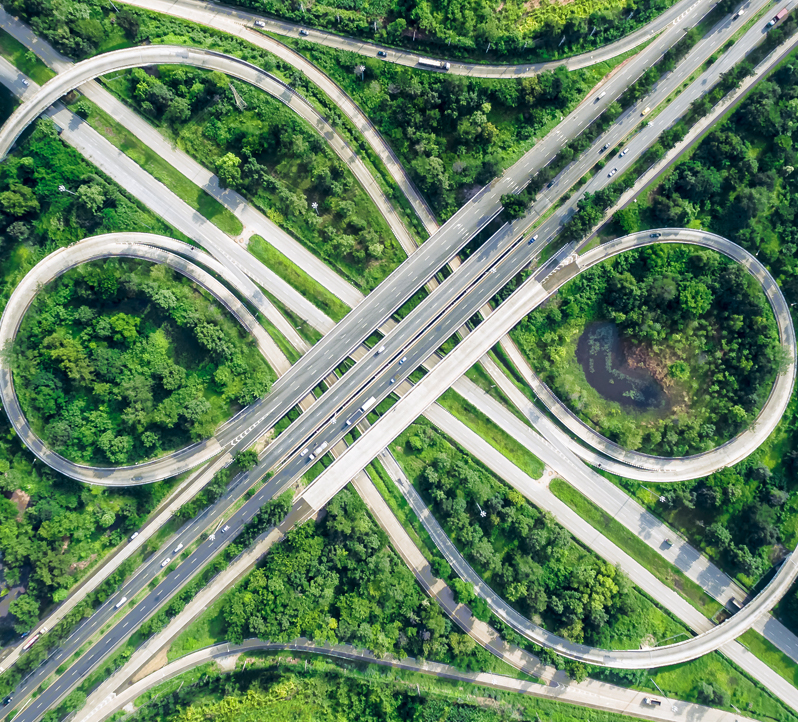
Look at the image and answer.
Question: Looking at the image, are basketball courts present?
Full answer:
No, the photo shows no basketball court.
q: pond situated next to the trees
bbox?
[574,320,669,409]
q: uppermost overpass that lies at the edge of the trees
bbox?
[0,51,112,172]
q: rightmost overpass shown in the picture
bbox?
[689,541,798,660]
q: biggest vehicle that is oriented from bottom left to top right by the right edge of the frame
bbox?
[768,5,790,25]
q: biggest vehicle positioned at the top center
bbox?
[418,57,450,69]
